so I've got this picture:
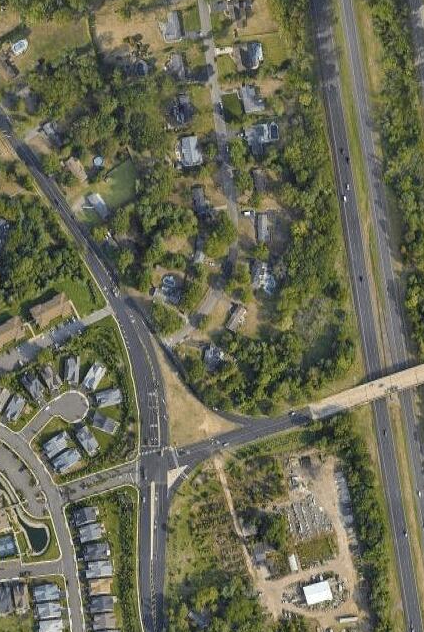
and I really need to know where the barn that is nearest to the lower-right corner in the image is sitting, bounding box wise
[303,580,333,605]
